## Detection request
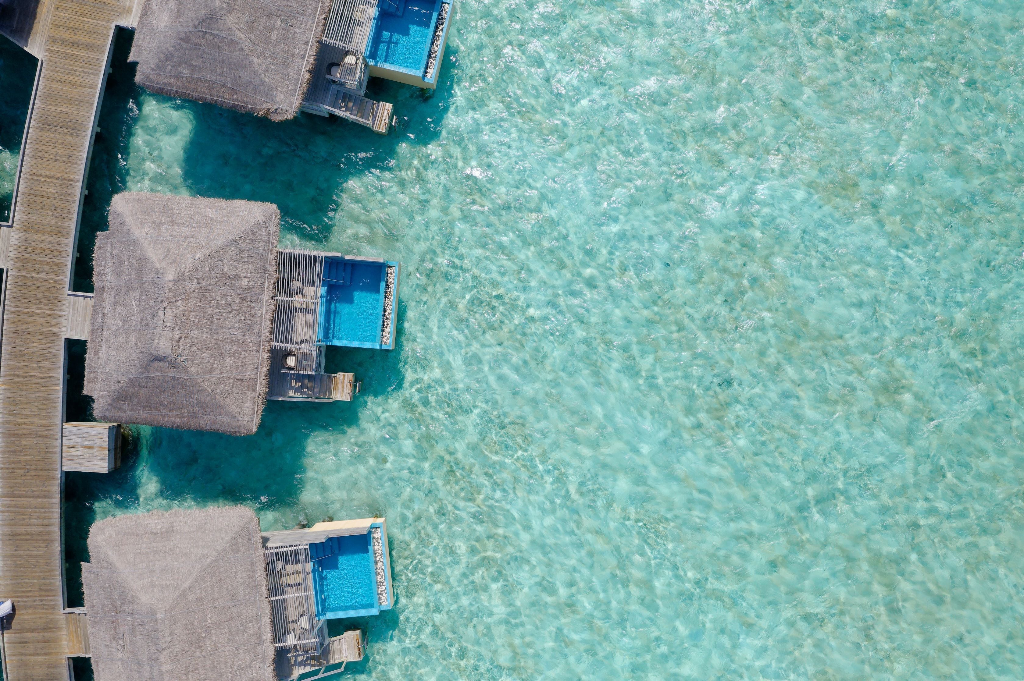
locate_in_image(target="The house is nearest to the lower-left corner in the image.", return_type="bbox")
[80,502,281,681]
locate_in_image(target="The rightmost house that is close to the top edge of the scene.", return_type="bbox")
[126,0,330,129]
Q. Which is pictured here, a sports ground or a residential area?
residential area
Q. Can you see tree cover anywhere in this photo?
No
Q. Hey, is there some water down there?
Yes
